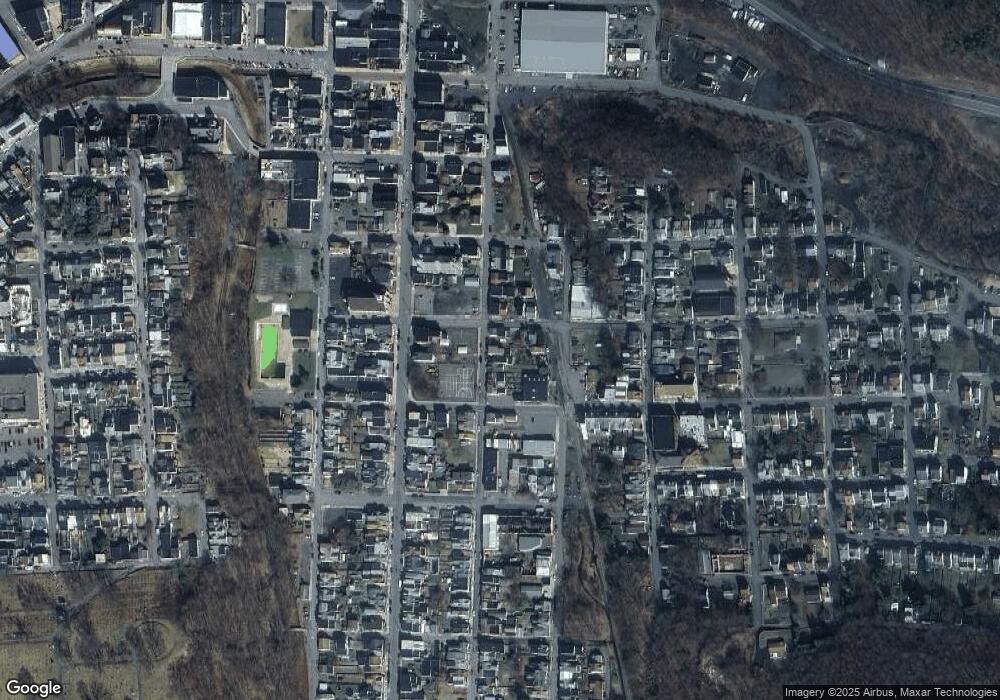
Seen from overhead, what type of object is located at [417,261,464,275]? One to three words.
building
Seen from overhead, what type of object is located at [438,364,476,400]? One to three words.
sports court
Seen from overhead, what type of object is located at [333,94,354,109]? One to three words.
house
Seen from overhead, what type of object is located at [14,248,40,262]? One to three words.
house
